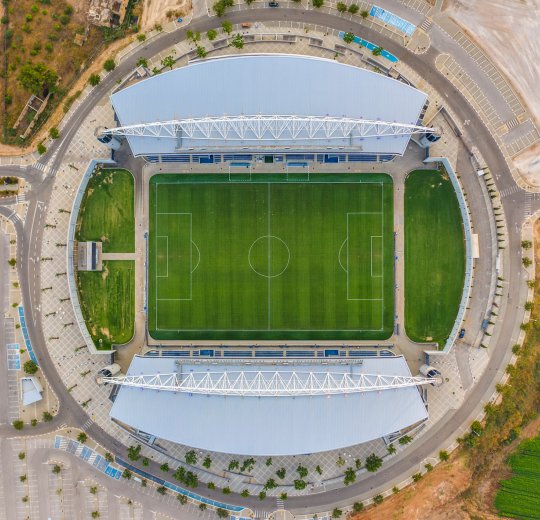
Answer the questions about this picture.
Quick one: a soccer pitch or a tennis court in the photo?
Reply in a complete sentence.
Looking from above, you can make out a soccer pitch.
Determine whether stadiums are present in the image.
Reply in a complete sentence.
Yes, the frame does contain a stadium.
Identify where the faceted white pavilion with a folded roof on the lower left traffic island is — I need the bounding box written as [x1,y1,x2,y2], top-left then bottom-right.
[22,378,43,405]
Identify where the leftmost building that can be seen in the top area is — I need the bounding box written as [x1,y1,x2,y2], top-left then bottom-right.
[13,93,49,137]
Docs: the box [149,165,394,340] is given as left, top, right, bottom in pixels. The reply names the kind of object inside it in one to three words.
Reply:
soccer field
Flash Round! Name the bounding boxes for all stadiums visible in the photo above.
[66,54,472,456]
